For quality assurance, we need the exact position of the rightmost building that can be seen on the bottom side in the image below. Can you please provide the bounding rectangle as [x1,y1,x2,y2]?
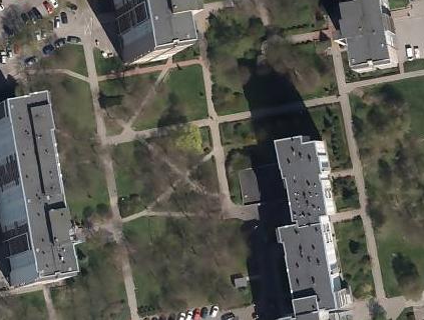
[266,136,351,320]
